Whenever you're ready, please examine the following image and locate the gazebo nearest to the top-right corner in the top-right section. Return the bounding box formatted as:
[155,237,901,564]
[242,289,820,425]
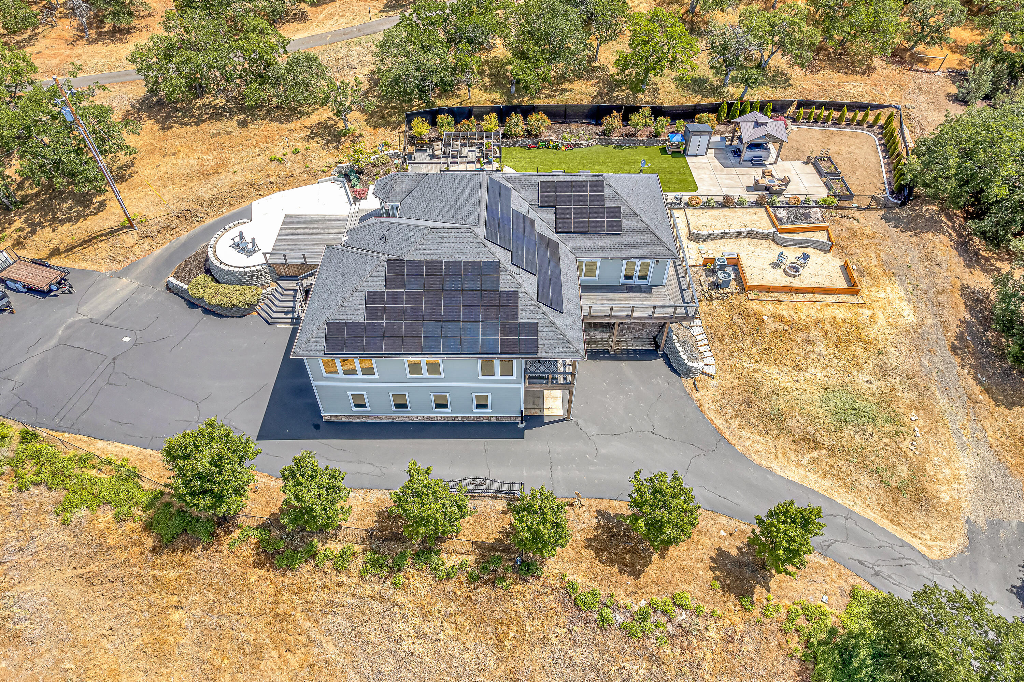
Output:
[732,107,791,164]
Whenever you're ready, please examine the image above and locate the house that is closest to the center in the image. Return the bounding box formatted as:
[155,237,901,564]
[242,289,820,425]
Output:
[290,164,680,430]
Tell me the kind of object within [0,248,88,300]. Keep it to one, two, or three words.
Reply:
trailer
